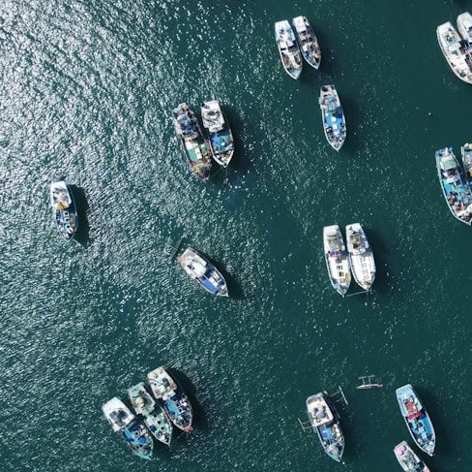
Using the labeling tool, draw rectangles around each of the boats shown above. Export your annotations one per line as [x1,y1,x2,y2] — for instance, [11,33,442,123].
[462,145,472,189]
[147,366,192,431]
[320,85,346,152]
[308,392,343,463]
[324,224,351,298]
[395,438,430,472]
[274,18,302,81]
[436,147,472,226]
[202,100,233,168]
[457,10,472,55]
[436,19,472,84]
[129,382,173,446]
[101,396,153,461]
[396,382,434,458]
[174,105,210,183]
[179,248,230,297]
[345,222,375,292]
[357,375,383,388]
[49,180,79,241]
[292,15,322,70]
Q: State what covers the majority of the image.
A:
water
